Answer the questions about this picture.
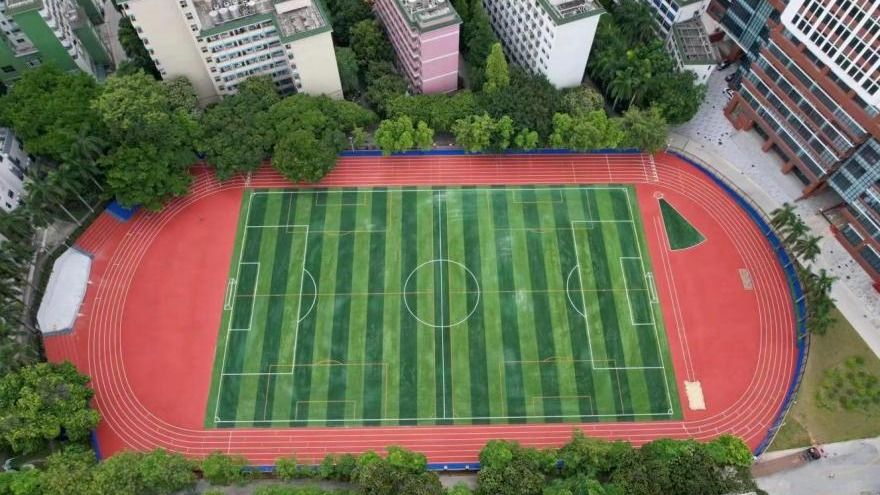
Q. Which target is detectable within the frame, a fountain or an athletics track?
athletics track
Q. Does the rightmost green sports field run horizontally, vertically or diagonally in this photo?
diagonally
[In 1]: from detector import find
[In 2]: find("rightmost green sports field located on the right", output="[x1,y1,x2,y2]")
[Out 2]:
[656,193,708,250]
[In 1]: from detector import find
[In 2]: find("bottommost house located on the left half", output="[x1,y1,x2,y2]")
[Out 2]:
[0,140,37,213]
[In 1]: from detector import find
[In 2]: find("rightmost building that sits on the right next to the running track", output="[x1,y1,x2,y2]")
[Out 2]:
[691,0,880,282]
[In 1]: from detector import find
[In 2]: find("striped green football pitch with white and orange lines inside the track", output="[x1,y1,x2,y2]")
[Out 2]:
[204,184,683,428]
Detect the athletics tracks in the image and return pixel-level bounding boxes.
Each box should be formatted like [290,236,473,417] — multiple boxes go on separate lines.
[72,152,798,472]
